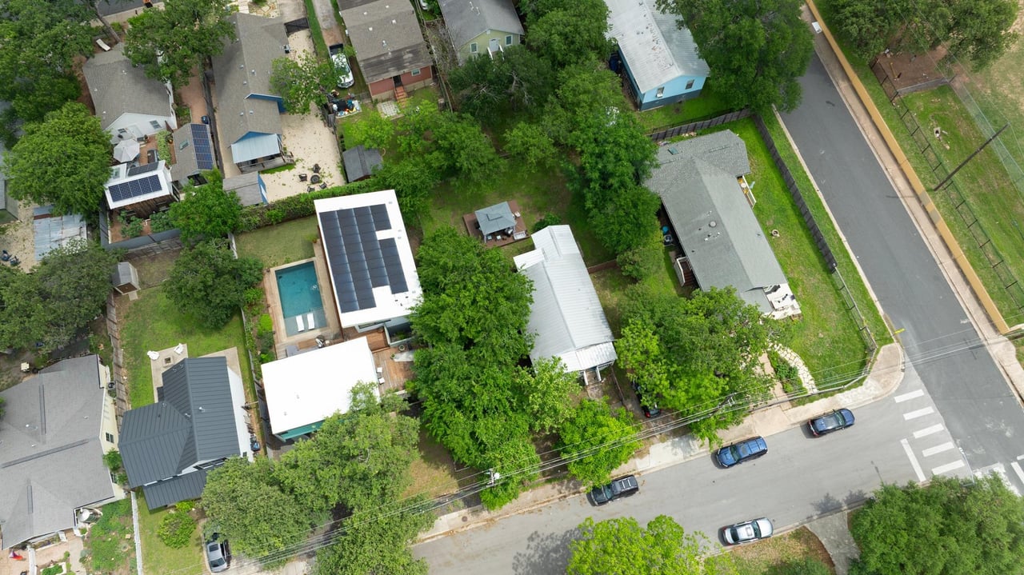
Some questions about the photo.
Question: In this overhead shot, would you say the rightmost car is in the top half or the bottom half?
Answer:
bottom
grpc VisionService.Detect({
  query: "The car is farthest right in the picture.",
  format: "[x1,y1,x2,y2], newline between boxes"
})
[805,409,854,438]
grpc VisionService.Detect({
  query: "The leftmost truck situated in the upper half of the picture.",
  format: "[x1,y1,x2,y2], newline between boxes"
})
[328,46,355,87]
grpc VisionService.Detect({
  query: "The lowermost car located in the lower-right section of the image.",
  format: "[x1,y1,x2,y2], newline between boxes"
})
[720,516,774,548]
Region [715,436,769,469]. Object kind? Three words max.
car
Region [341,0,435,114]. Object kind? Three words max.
house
